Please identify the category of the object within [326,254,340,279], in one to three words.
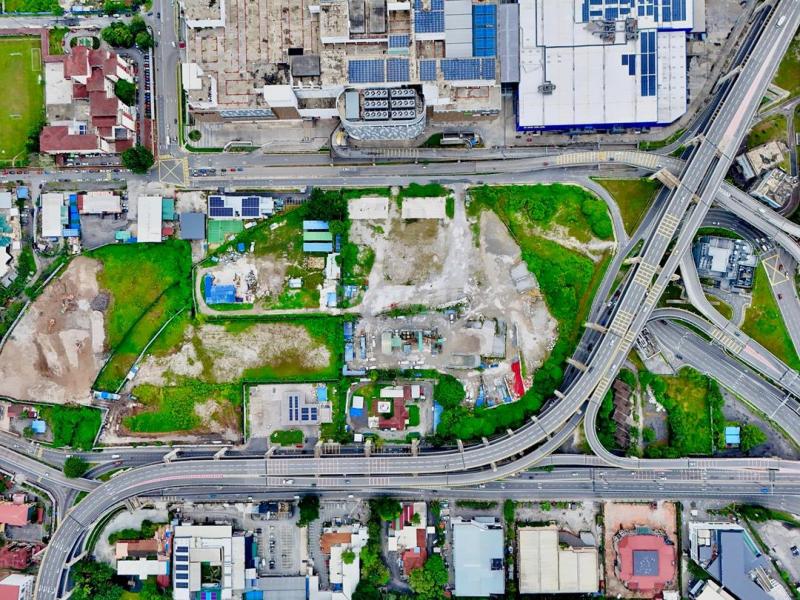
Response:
shed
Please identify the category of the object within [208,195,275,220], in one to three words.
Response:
building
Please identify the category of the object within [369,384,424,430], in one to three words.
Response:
house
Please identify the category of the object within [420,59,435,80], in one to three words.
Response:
solar panel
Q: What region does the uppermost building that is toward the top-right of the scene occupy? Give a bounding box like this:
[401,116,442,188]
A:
[515,0,705,134]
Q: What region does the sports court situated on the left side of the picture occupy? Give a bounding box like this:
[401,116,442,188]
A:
[208,220,243,243]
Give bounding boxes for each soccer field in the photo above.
[0,38,45,166]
